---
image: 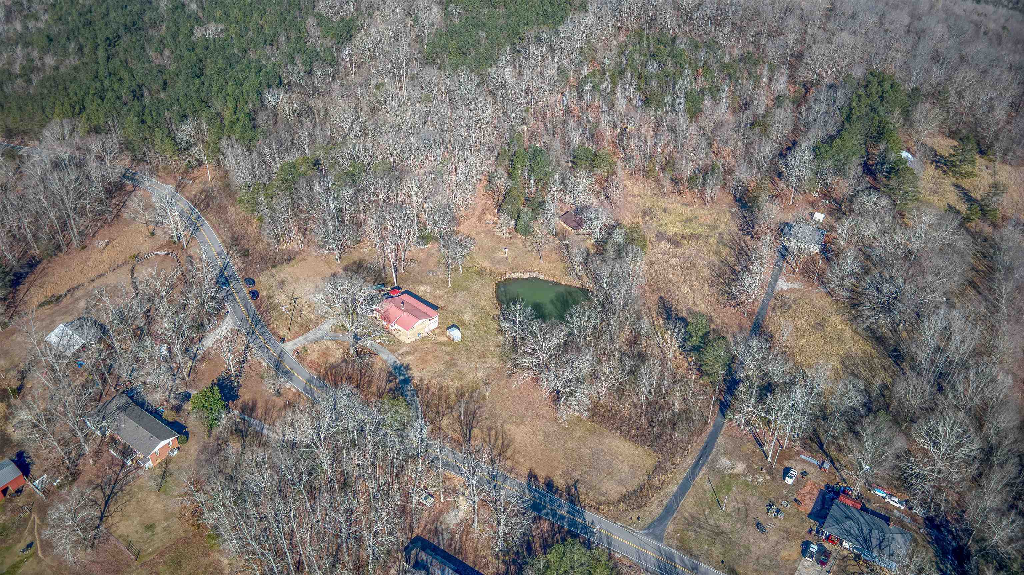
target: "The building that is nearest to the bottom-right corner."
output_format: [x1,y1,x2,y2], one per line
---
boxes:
[825,491,919,575]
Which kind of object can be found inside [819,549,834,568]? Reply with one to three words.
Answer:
car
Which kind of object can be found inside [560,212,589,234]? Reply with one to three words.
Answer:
building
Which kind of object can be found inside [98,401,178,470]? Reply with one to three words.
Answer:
house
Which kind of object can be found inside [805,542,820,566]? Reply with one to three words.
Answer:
vehicle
